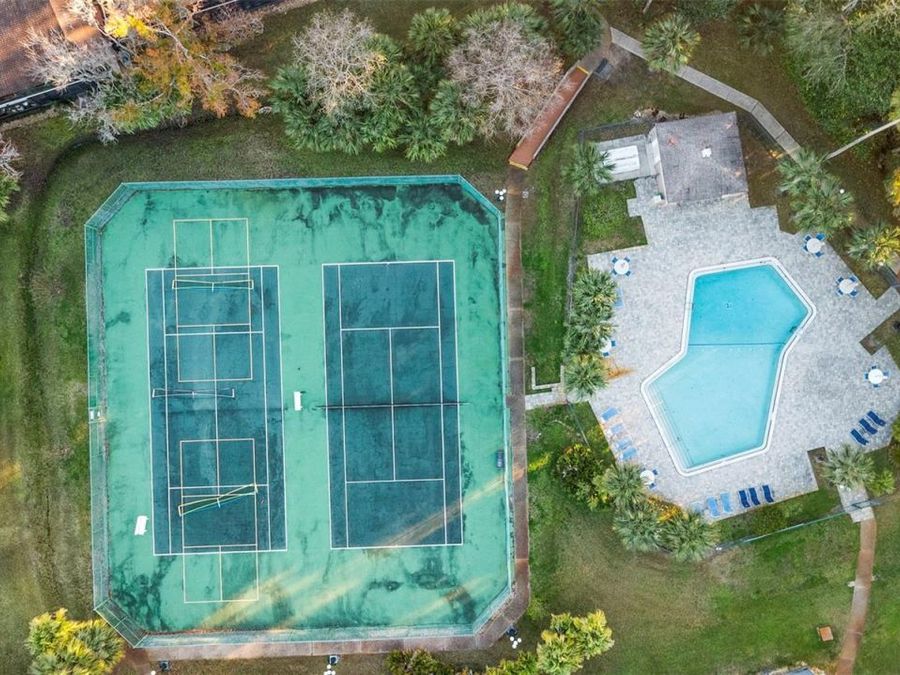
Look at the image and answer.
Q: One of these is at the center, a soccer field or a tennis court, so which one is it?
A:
tennis court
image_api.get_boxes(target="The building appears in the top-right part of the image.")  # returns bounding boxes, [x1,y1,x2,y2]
[646,112,749,209]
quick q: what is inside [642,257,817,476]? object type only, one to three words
swimming pool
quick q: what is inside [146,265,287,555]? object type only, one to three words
tennis court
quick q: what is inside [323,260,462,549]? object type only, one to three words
tennis court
